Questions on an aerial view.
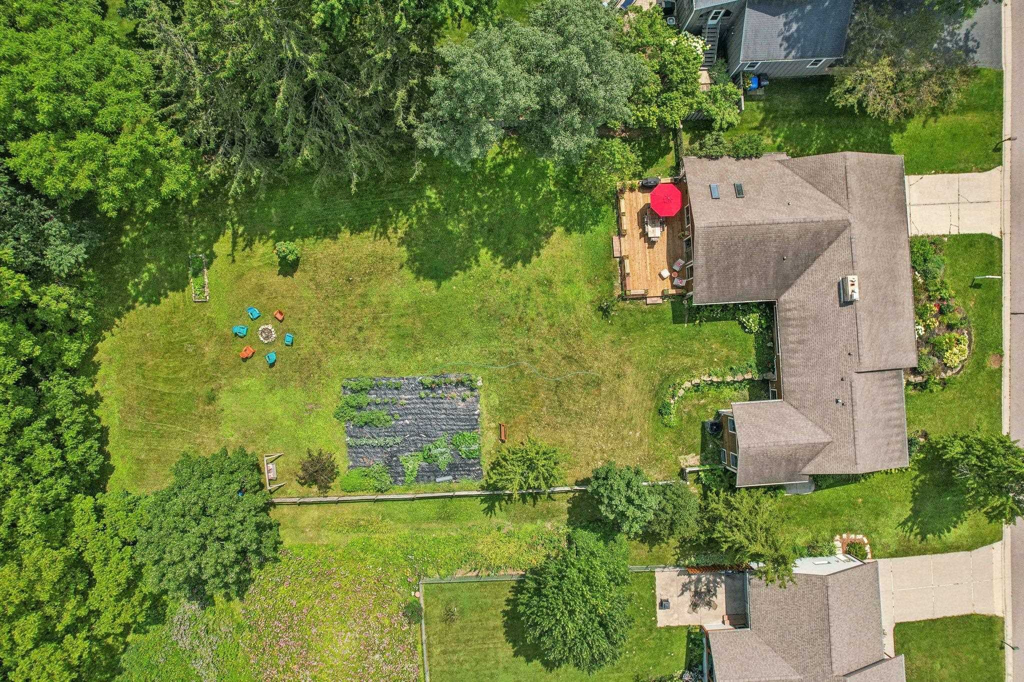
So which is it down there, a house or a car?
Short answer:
house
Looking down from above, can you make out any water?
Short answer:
No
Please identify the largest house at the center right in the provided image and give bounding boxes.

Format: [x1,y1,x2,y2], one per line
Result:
[674,152,918,487]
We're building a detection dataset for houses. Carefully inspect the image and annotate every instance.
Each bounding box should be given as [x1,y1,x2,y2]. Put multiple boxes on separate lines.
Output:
[682,0,851,78]
[702,552,908,682]
[674,152,918,487]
